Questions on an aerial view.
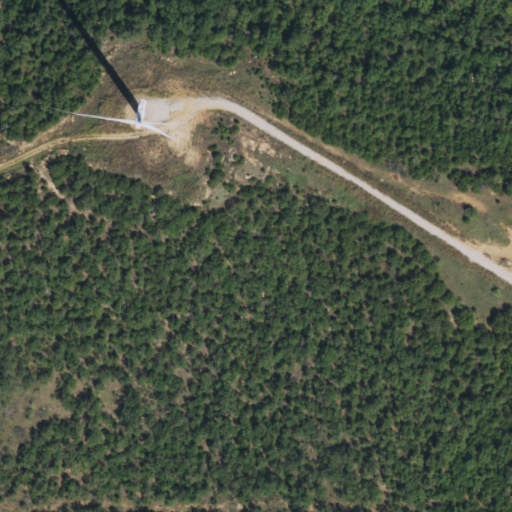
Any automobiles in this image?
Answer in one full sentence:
No, no automobile can be seen from above.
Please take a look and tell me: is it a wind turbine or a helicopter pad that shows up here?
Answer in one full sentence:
It is a wind turbine that can be seen here.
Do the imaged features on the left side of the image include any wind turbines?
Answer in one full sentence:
Yes, a wind turbine is visible on the left side of the image.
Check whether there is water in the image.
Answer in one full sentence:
No, water can't be seen anywhere here.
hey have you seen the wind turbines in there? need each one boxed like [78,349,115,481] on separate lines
[54,98,183,140]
